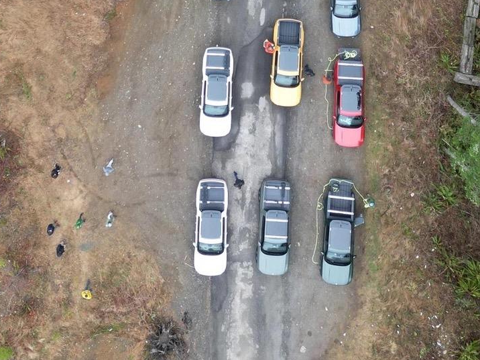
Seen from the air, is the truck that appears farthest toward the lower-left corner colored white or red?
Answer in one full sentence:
The color of the truck that appears farthest toward the lower-left corner is white.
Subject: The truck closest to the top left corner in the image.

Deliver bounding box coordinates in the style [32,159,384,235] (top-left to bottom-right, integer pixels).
[198,47,235,136]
